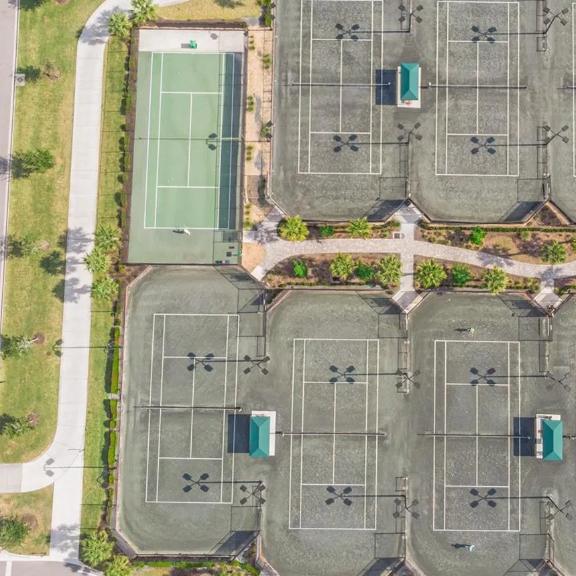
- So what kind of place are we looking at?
sports ground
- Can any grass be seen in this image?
Yes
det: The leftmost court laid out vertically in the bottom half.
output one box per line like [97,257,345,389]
[116,265,266,555]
